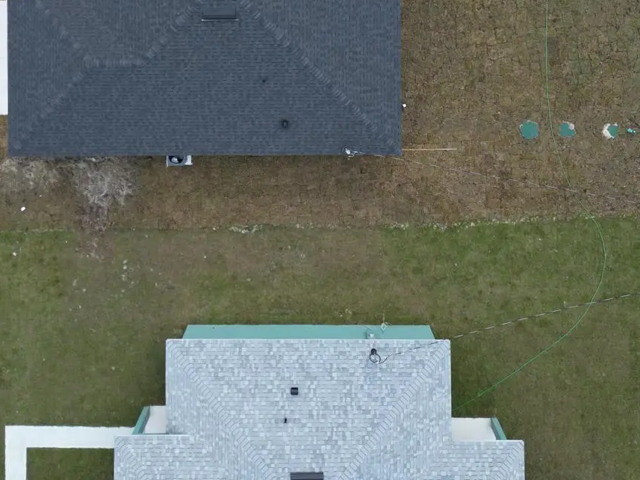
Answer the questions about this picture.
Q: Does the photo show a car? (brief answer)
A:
No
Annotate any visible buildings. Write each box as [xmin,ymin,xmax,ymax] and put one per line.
[7,0,401,160]
[113,309,524,480]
